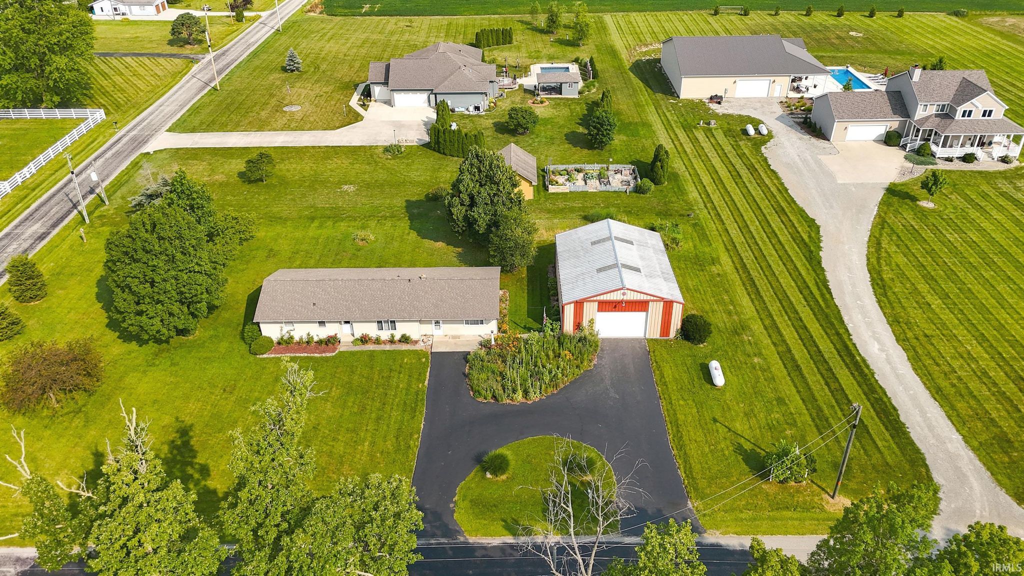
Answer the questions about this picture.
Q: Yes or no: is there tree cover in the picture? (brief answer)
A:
Yes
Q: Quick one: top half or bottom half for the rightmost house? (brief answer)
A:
top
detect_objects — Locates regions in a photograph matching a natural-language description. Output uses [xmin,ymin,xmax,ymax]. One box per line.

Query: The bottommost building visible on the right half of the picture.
[553,220,687,339]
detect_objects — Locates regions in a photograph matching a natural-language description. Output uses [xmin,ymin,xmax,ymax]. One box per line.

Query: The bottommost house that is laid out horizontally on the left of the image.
[251,266,501,343]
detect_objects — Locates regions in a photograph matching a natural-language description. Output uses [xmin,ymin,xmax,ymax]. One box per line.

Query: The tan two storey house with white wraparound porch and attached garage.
[805,61,1024,157]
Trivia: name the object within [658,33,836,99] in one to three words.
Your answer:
barn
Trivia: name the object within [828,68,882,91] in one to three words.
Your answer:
swimming pool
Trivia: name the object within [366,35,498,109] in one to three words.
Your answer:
house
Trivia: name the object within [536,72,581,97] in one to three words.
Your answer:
building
